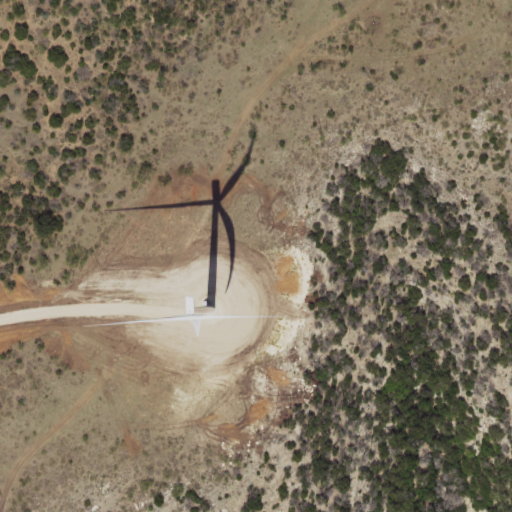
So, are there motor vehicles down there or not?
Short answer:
No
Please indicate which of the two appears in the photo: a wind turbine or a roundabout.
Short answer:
wind turbine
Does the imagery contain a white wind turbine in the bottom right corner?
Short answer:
No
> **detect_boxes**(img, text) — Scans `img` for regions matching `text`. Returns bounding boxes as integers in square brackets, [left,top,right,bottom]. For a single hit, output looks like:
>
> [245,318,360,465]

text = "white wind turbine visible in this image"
[80,298,240,336]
